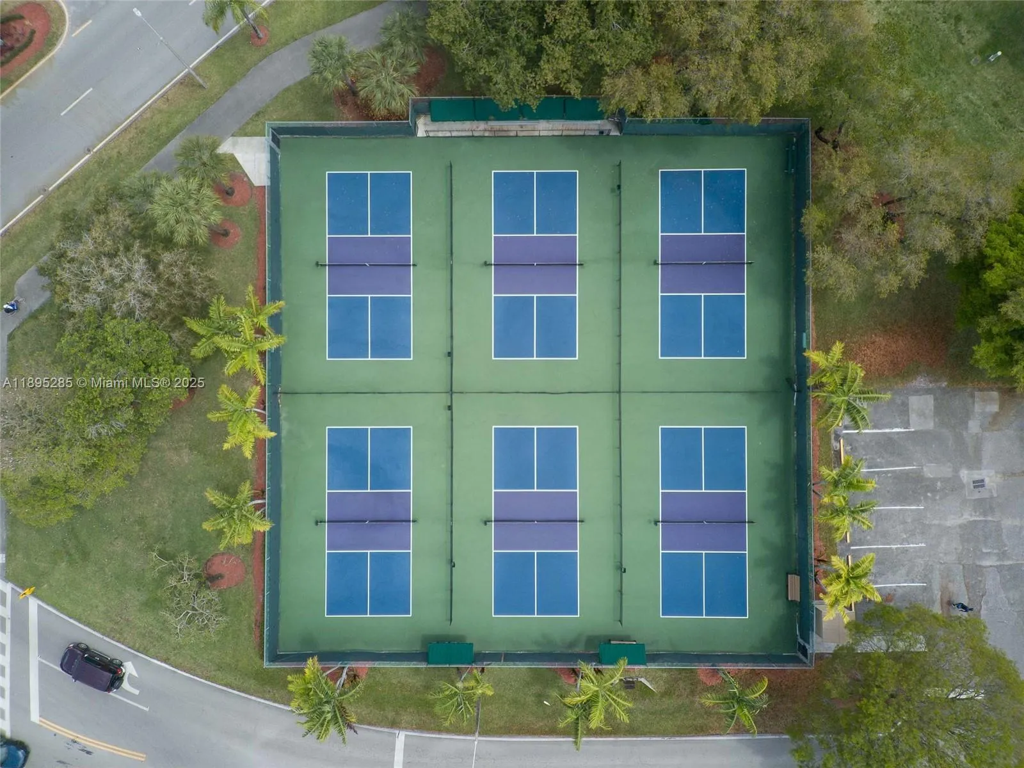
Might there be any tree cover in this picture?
Yes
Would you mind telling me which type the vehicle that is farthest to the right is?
car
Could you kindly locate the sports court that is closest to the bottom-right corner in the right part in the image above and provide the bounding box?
[705,554,747,617]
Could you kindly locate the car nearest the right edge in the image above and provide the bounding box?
[57,646,127,696]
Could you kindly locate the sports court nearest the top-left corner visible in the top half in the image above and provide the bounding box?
[327,172,368,234]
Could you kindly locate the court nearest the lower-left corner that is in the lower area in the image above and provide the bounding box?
[326,552,368,615]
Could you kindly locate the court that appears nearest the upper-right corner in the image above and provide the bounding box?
[703,170,745,232]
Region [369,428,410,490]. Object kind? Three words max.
sports court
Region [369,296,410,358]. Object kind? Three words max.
sports court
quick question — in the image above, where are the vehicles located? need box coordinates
[0,739,29,768]
[57,646,127,696]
